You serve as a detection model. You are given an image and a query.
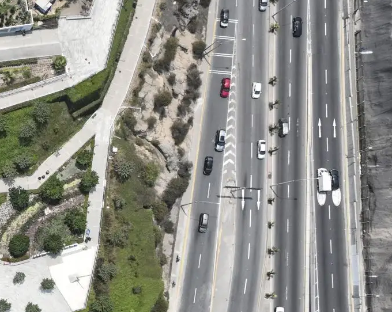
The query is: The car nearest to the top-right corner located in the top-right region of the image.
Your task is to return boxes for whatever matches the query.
[291,14,304,36]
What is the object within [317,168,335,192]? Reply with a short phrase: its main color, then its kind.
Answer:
white vehicle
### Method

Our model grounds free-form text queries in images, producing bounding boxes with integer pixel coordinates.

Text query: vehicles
[220,77,231,98]
[257,0,268,12]
[250,80,261,99]
[329,168,341,190]
[255,139,267,159]
[219,7,230,28]
[291,14,304,36]
[317,168,335,192]
[215,129,227,151]
[278,116,290,139]
[198,212,210,233]
[203,155,214,175]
